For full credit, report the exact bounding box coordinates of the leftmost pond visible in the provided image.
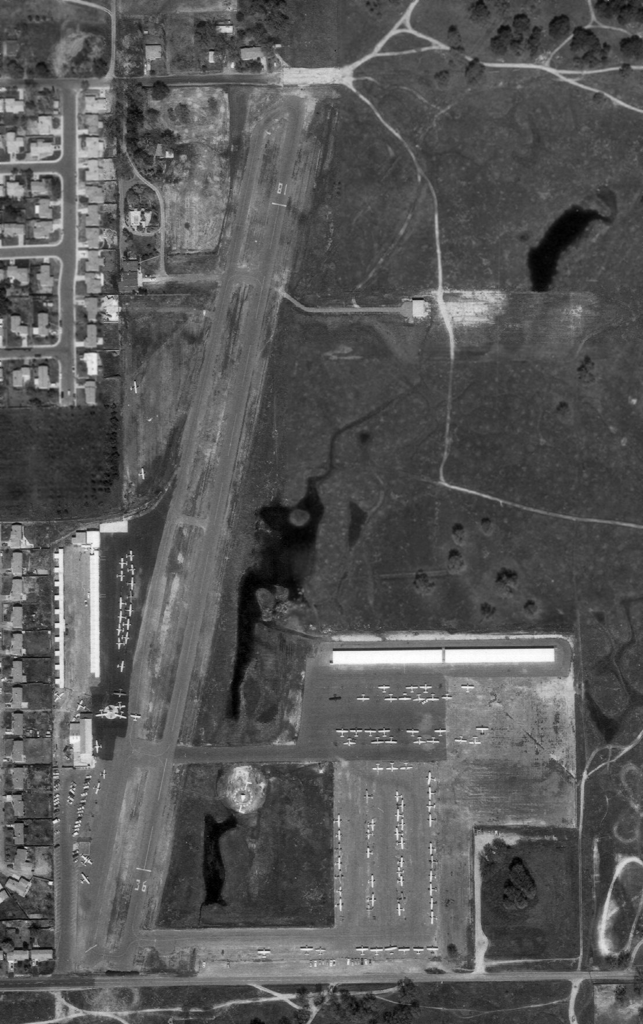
[203,813,237,906]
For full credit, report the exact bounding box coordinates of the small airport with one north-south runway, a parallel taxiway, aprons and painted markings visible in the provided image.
[54,96,573,974]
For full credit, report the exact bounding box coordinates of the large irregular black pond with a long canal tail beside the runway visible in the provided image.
[231,479,324,719]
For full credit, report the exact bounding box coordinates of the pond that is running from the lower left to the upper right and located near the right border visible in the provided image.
[528,205,611,292]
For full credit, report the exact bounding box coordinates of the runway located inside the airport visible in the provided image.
[125,98,305,940]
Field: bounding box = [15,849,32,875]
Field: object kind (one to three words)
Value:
house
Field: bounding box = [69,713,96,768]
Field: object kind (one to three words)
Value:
building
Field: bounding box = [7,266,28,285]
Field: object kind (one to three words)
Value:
house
